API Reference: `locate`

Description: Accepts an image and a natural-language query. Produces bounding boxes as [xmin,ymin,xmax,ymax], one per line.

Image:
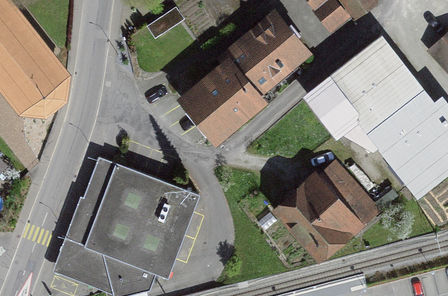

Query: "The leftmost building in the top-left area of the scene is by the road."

[0,0,71,118]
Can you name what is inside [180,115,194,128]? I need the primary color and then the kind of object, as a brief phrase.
black vehicle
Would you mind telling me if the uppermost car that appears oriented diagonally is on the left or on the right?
right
